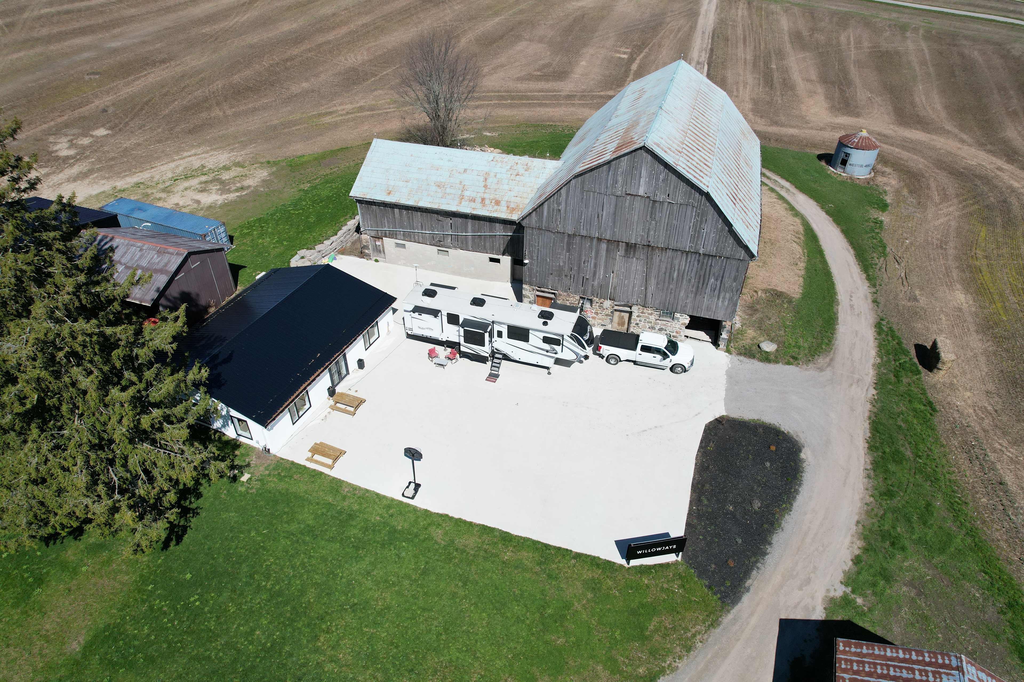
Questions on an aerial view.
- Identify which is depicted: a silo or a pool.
silo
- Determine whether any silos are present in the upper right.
Yes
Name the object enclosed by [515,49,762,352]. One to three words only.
barn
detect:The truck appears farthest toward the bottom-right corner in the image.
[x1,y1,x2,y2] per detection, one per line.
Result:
[594,330,694,373]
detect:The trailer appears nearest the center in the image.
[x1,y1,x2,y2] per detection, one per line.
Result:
[403,262,595,378]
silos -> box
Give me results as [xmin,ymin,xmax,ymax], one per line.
[829,130,881,178]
